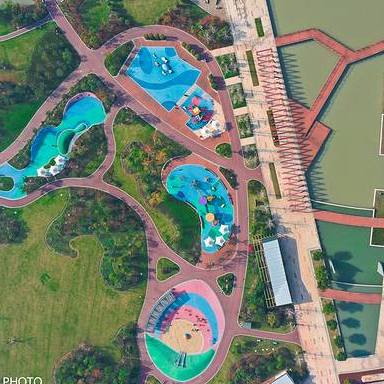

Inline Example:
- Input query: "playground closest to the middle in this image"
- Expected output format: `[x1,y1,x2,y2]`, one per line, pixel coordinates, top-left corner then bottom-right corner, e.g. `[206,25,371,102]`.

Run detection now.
[166,164,235,254]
